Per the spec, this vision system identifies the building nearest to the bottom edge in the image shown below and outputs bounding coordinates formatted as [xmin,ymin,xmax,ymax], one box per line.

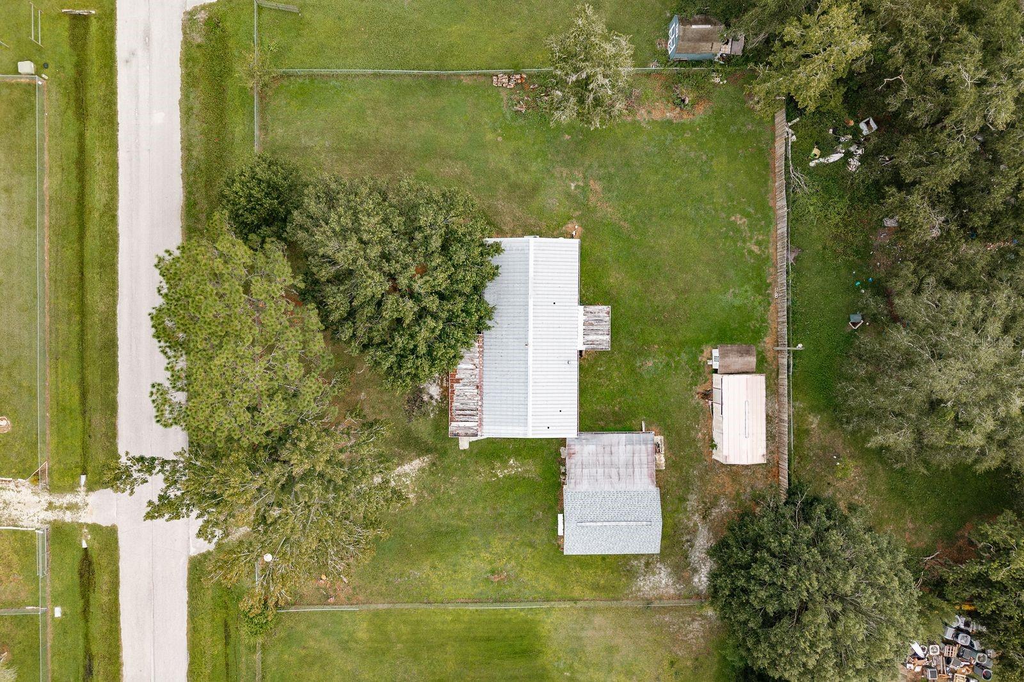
[564,484,665,555]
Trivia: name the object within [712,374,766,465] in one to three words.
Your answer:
building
